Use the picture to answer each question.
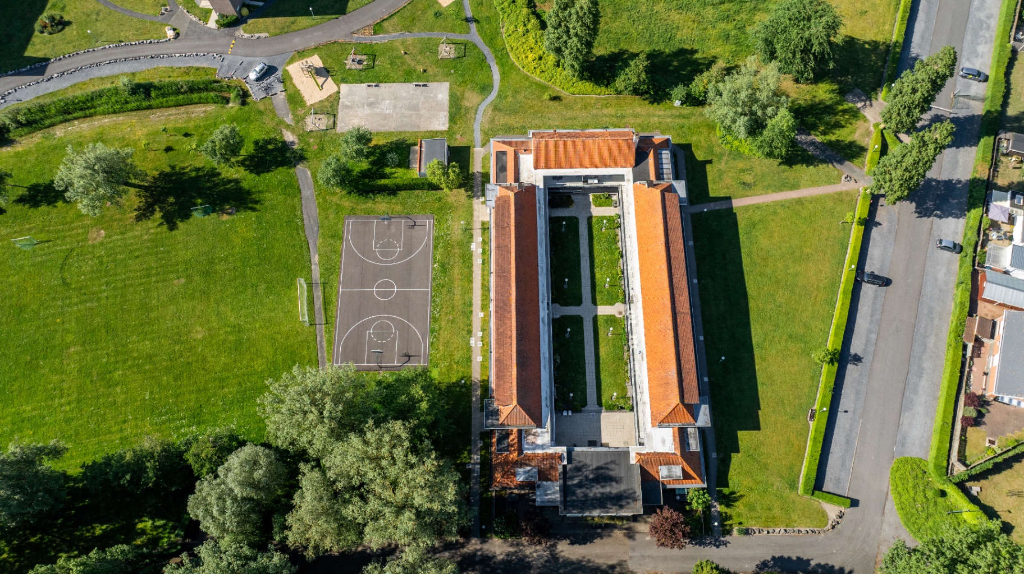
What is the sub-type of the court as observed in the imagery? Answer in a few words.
basketball court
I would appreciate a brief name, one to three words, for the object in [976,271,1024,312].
building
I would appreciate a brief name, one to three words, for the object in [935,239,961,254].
car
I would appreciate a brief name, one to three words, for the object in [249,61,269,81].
car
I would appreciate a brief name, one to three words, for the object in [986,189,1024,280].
house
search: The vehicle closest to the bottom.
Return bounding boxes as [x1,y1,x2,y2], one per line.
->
[857,271,886,287]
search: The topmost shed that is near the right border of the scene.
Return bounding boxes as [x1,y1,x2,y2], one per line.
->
[995,130,1024,160]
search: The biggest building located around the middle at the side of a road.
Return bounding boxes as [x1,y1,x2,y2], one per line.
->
[483,127,709,518]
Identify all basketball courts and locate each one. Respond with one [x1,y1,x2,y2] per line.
[331,216,435,371]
